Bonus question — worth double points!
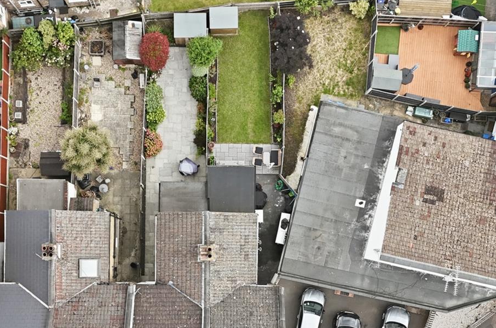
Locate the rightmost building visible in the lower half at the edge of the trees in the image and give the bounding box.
[276,97,496,314]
